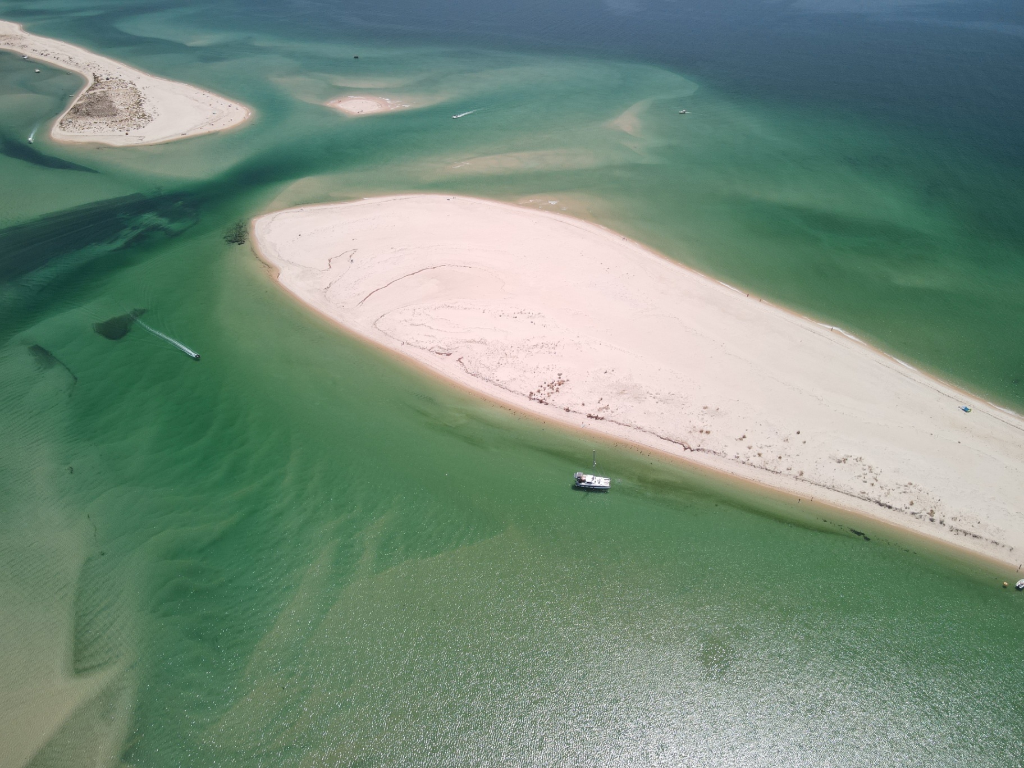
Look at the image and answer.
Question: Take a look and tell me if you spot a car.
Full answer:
No, there isn't any car down there.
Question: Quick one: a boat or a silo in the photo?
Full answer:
The one in the frame is a boat.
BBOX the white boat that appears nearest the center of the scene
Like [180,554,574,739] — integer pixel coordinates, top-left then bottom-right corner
[573,450,612,490]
